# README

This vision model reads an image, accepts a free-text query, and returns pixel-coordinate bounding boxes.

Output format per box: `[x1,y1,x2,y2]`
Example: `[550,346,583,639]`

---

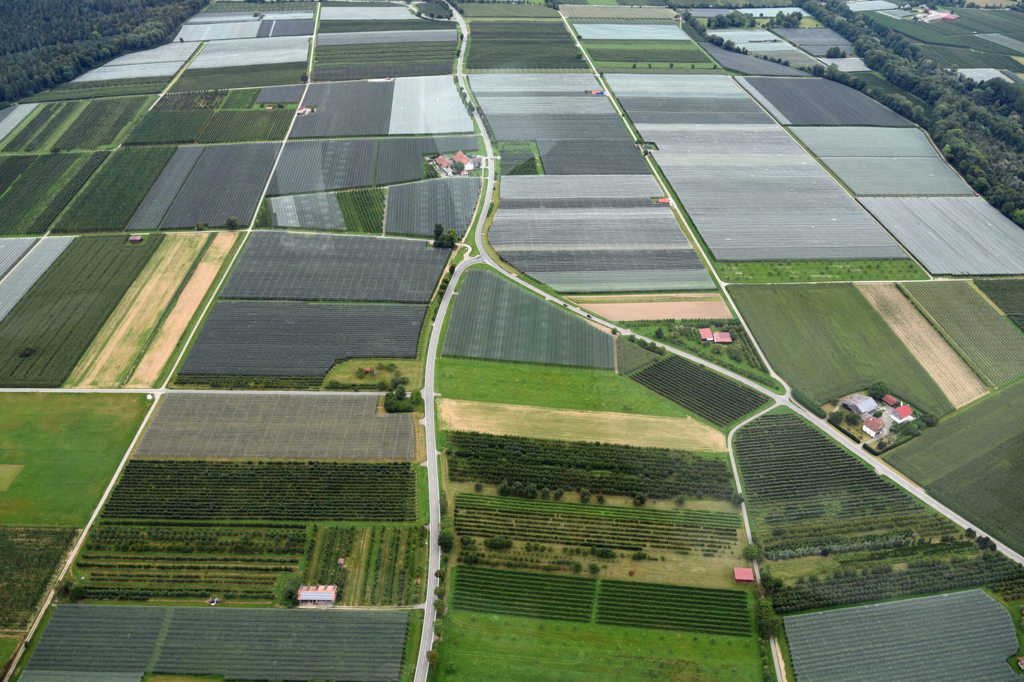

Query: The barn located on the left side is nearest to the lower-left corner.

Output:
[298,582,338,604]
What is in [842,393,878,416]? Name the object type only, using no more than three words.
barn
